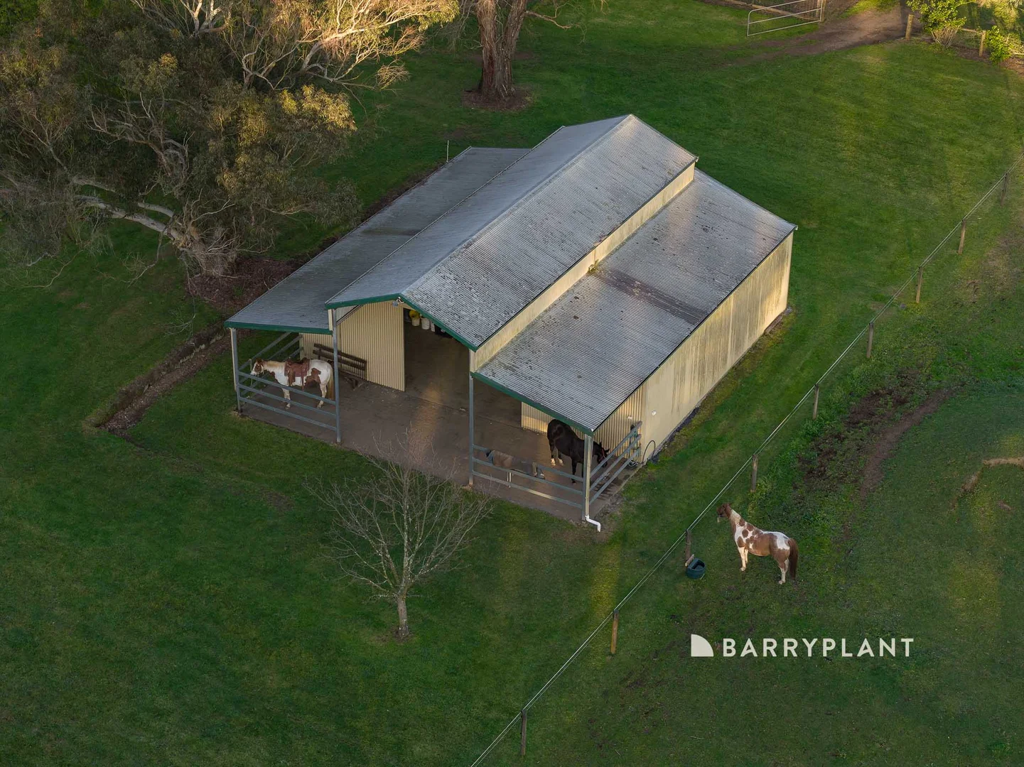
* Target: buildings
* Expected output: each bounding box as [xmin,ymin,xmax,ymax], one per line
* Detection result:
[222,111,800,533]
